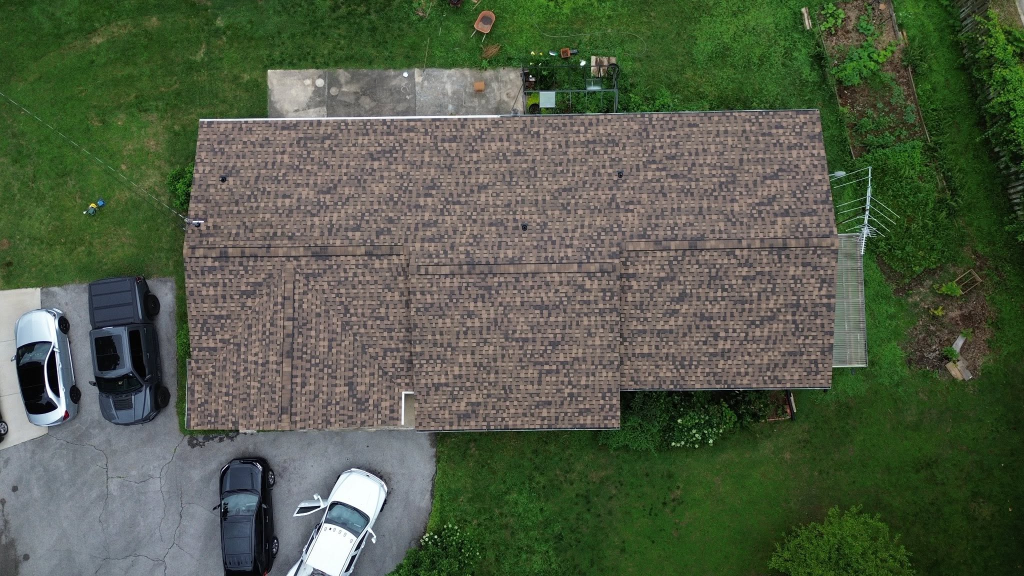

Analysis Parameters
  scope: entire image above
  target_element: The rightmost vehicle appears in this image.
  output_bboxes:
[289,466,392,576]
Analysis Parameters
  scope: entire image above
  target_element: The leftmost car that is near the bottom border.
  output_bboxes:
[208,456,278,576]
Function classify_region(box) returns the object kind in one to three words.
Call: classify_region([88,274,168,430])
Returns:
truck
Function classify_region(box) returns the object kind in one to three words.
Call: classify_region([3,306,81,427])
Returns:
car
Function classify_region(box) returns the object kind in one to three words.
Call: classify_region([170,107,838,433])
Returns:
house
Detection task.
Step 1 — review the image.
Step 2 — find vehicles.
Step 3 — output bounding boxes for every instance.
[3,306,81,427]
[289,466,392,576]
[88,274,168,430]
[208,456,278,576]
[0,420,7,455]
